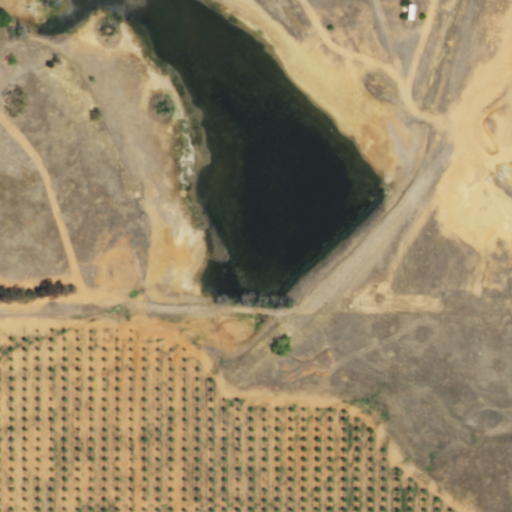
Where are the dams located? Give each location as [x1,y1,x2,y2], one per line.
[128,140,442,319]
